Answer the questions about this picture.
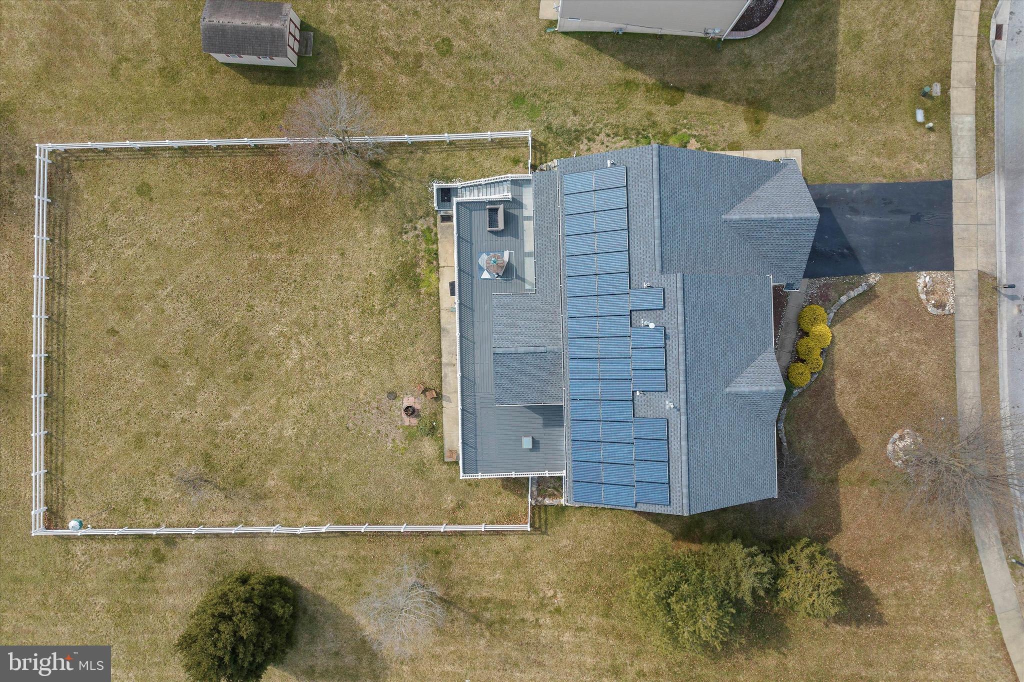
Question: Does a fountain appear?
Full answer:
No, I find no fountain anywhere in the image.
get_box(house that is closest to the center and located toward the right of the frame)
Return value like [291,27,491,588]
[492,144,821,518]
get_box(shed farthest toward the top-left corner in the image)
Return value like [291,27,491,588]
[198,0,299,67]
